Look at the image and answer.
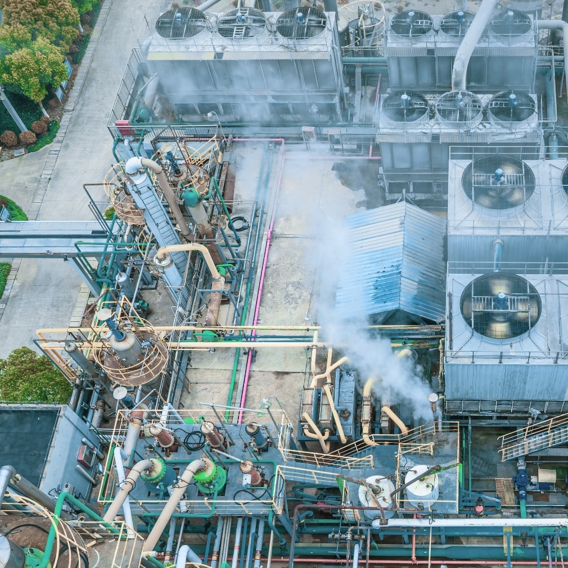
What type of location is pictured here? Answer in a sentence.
What you see here is an industrial area.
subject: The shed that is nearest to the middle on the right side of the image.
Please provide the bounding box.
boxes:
[335,185,445,346]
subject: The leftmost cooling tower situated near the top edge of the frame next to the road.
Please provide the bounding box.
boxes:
[143,0,345,122]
